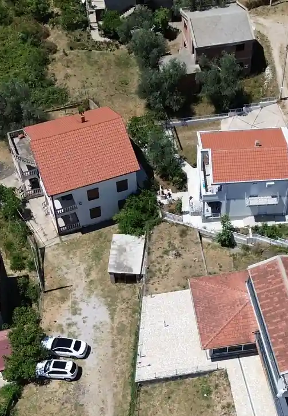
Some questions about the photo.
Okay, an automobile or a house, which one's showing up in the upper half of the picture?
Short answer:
house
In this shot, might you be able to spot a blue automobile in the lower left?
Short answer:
No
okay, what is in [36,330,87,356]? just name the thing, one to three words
car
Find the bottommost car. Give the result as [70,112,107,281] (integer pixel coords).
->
[34,355,79,381]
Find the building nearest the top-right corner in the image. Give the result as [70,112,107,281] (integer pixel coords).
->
[165,6,257,88]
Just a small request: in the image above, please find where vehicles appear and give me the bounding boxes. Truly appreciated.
[36,330,87,356]
[34,355,79,381]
